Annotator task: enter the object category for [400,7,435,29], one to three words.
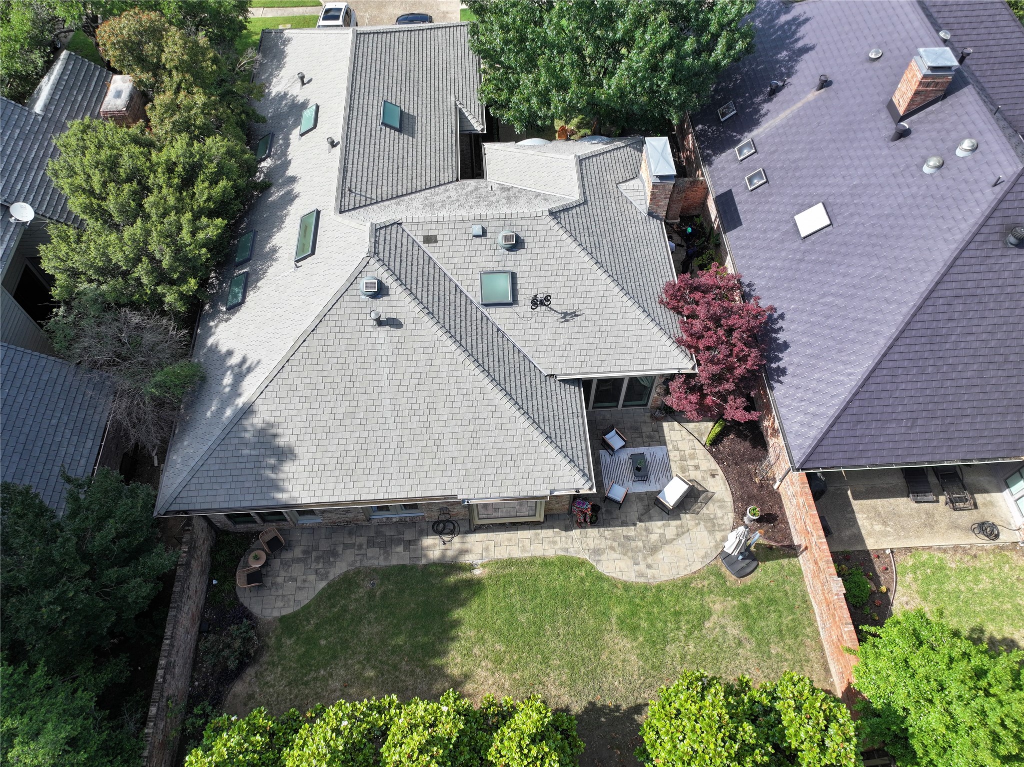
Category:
car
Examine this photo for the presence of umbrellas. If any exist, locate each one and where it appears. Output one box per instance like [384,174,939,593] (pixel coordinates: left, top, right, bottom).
[719,525,764,579]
